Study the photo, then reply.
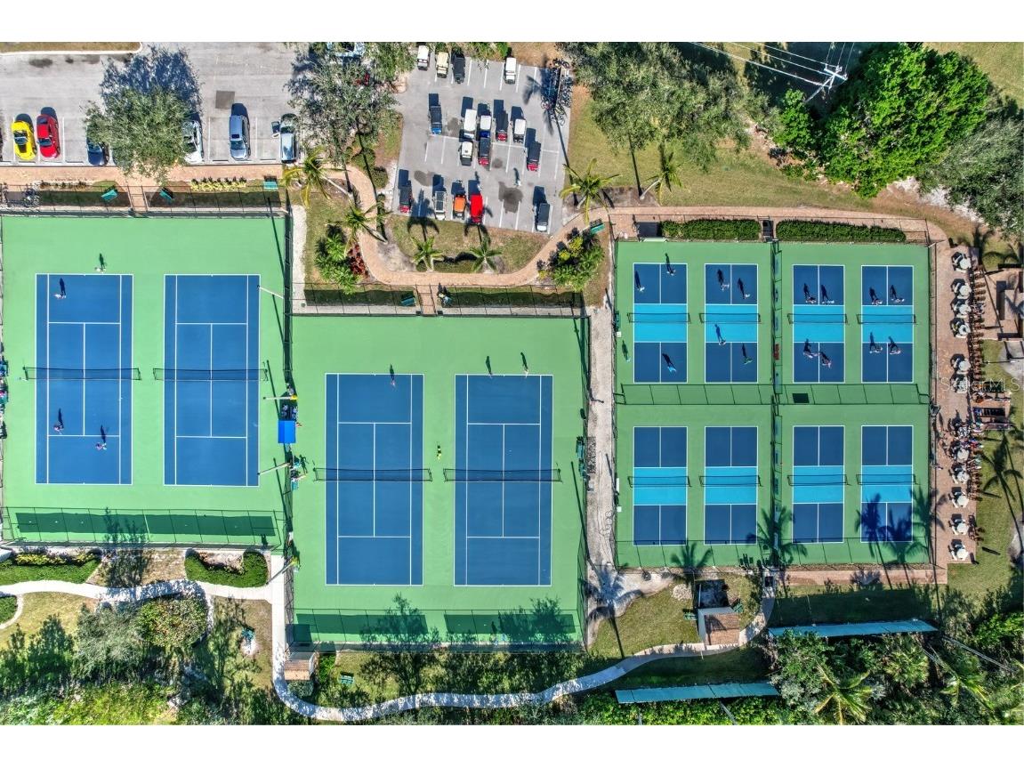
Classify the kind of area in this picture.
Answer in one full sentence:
This looks like a sports ground.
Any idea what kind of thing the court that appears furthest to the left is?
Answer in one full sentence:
What you see as the court that appears furthest to the left is a tennis court.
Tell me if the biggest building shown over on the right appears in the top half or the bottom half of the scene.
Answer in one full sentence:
The biggest building shown over on the right is in the bottom half of the image.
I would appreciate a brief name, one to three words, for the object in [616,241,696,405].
sports court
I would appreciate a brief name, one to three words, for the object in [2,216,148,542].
tennis court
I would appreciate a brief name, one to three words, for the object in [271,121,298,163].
car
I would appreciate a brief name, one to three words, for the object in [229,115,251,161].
car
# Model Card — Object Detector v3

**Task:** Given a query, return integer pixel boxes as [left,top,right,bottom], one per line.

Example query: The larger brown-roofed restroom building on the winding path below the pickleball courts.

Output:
[698,608,743,649]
